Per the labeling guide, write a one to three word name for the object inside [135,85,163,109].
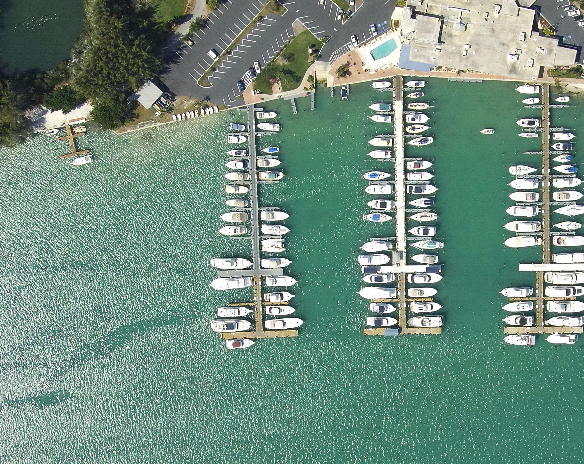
shed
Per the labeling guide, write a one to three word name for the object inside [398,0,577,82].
building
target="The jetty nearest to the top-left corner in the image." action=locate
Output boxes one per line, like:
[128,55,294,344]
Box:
[56,125,90,160]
